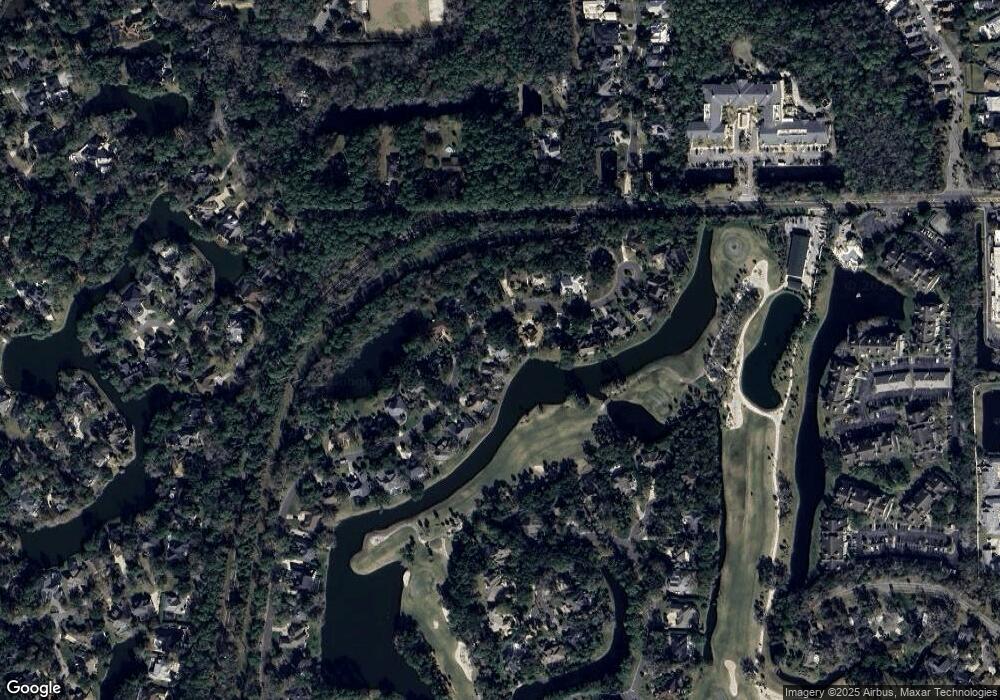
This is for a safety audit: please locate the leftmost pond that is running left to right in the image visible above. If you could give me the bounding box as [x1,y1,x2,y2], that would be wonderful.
[87,86,188,133]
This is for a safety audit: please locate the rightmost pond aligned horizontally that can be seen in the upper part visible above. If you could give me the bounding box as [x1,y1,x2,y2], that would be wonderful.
[753,166,846,193]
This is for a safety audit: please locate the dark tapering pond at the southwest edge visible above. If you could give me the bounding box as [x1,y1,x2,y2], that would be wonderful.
[100,636,148,700]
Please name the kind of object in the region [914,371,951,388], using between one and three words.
building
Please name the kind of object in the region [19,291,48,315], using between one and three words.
house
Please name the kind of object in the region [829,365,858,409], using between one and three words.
building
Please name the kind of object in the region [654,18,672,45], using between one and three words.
house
